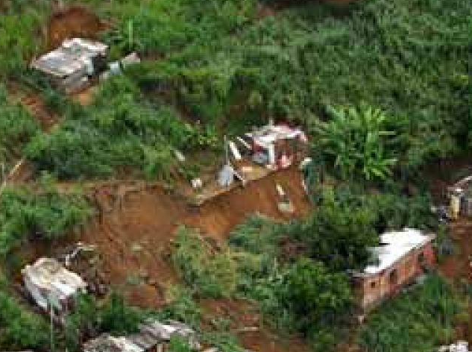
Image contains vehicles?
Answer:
No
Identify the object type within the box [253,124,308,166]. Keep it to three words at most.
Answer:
house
